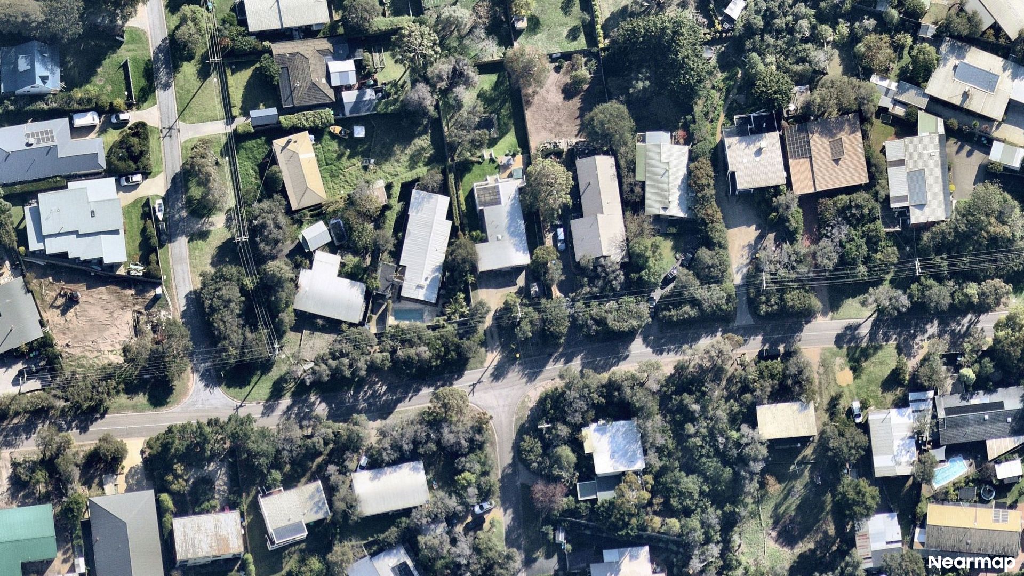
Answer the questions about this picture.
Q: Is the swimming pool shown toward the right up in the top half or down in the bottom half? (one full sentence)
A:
It is in the bottom half that the swimming pool shown toward the right appears.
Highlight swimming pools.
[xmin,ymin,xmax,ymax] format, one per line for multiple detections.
[932,455,970,490]
[392,307,425,323]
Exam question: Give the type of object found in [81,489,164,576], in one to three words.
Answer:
house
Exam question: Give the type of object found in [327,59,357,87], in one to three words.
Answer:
building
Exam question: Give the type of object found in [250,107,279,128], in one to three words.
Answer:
shed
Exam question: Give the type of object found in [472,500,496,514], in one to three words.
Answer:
car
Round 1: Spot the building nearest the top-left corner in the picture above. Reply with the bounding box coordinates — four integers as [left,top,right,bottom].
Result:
[0,40,65,100]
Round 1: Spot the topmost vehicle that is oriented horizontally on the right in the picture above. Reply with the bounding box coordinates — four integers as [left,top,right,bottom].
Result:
[758,347,783,359]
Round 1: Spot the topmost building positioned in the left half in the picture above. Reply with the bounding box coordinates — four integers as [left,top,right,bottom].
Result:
[234,0,329,39]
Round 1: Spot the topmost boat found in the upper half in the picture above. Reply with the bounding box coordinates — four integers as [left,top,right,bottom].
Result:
[328,126,349,139]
